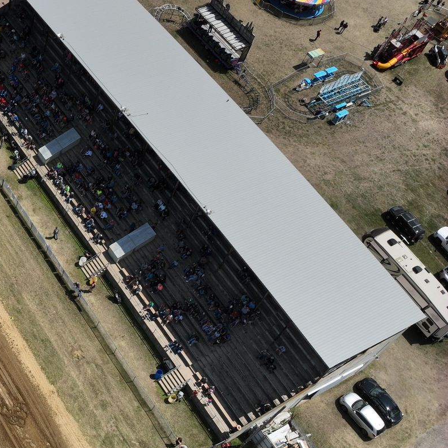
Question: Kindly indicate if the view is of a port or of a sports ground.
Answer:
sports ground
